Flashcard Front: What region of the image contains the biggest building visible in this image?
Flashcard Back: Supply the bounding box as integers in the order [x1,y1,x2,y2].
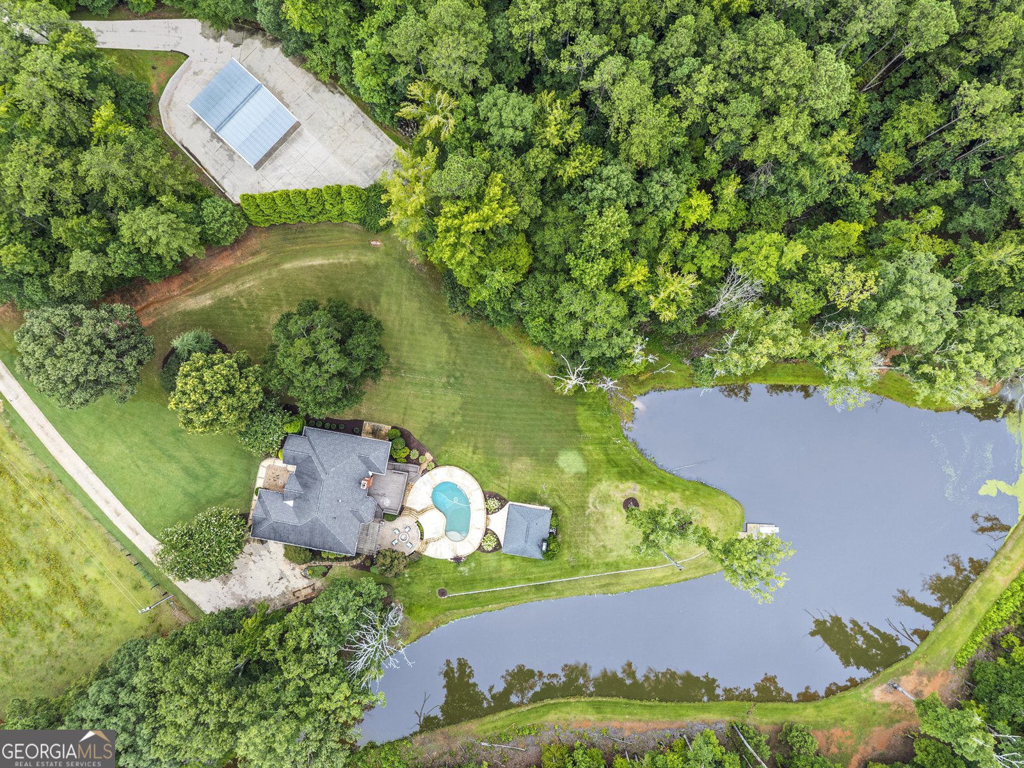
[250,427,393,556]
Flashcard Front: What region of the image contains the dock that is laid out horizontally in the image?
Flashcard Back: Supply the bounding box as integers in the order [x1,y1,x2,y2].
[737,523,779,540]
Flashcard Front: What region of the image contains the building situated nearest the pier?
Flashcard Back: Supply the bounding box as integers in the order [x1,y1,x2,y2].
[502,503,552,560]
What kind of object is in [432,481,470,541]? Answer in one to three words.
swimming pool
